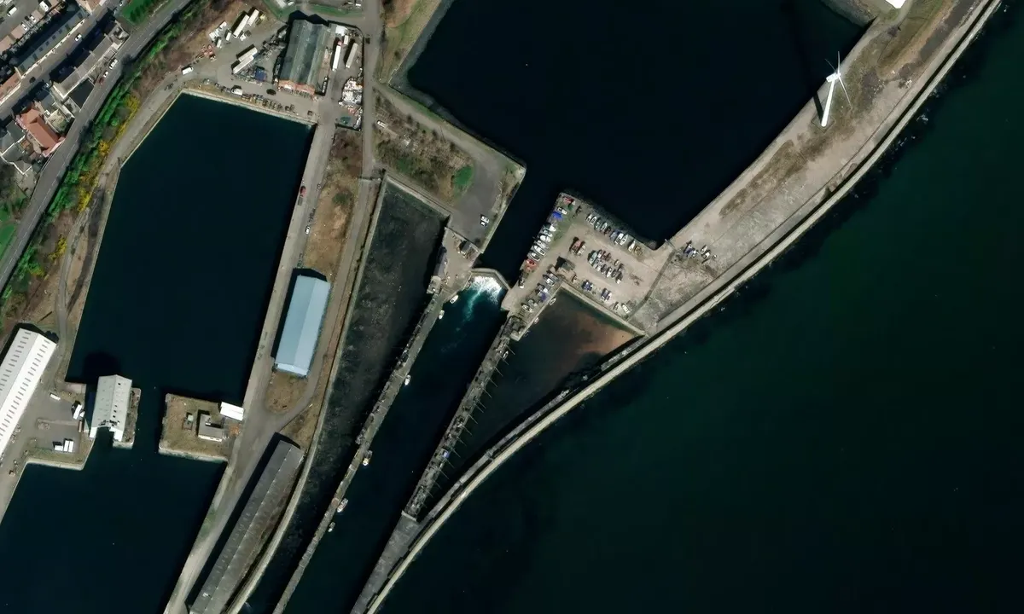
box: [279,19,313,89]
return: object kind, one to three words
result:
shed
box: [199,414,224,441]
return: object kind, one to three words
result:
house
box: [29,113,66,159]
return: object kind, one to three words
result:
building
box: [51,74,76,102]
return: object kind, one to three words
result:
house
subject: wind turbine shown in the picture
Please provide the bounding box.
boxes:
[819,59,852,129]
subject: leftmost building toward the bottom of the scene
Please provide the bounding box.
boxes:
[0,328,58,465]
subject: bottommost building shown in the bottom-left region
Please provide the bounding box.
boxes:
[187,440,305,614]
